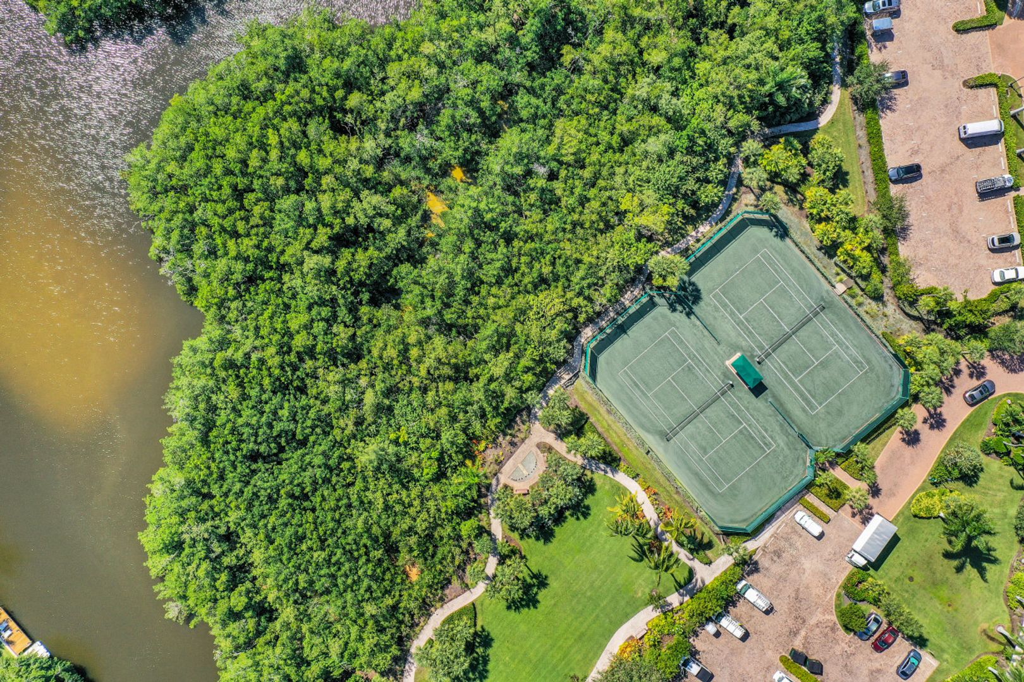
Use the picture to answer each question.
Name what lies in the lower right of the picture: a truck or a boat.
truck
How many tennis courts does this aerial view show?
two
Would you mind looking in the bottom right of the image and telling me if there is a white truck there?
Yes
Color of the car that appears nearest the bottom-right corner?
blue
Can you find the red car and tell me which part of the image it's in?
bottom right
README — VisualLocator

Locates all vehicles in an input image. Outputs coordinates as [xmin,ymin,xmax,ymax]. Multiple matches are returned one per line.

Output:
[871,624,900,654]
[991,267,1024,282]
[896,649,921,681]
[847,510,898,565]
[973,175,1013,193]
[738,581,775,615]
[986,234,1019,249]
[877,69,910,86]
[961,379,994,406]
[888,164,922,180]
[866,0,901,16]
[855,611,883,642]
[705,622,721,636]
[869,17,894,34]
[768,667,795,682]
[793,511,824,538]
[714,609,749,644]
[958,119,1002,139]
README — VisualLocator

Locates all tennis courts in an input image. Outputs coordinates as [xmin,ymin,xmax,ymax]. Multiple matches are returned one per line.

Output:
[677,212,903,448]
[586,294,813,528]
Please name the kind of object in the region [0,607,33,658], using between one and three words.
pier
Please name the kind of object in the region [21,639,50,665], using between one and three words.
pier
